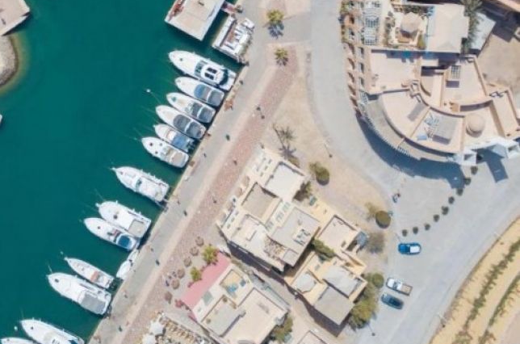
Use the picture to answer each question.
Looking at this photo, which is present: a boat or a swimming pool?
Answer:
boat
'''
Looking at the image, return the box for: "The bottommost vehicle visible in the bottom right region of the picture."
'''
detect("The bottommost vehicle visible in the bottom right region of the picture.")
[379,292,403,309]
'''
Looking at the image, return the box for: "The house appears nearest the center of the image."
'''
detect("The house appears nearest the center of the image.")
[212,145,321,265]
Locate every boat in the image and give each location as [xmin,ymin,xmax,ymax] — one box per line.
[59,255,127,298]
[83,218,147,258]
[0,336,39,344]
[115,260,128,278]
[168,49,240,93]
[90,199,153,239]
[166,93,216,125]
[47,273,113,317]
[174,77,229,109]
[141,139,189,171]
[19,318,89,344]
[155,106,210,143]
[126,249,138,264]
[153,124,202,163]
[107,165,184,205]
